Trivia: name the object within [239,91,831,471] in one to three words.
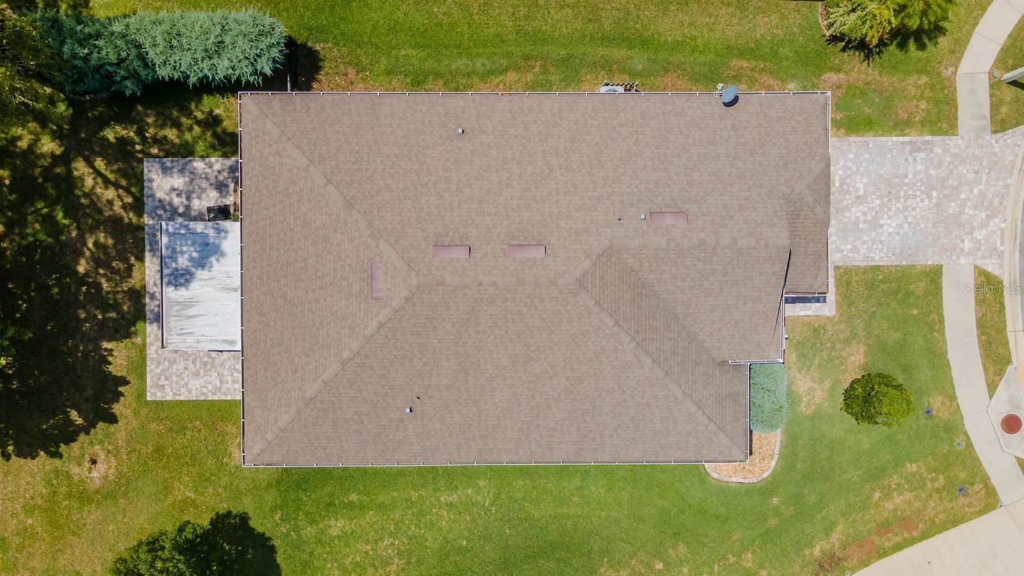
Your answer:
house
